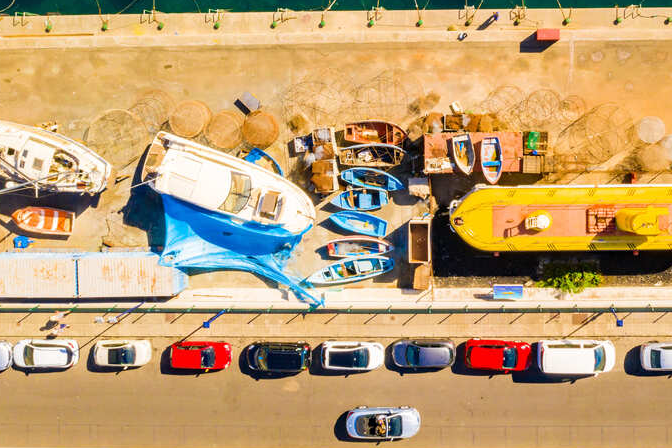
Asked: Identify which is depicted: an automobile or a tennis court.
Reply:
automobile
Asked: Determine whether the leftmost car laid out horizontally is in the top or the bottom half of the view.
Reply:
bottom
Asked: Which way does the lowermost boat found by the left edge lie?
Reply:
horizontally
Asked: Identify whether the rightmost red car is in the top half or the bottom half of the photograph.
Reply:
bottom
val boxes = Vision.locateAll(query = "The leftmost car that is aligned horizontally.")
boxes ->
[13,339,81,373]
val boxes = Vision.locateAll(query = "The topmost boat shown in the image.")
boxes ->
[344,119,408,146]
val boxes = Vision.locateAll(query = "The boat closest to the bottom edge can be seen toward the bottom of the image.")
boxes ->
[305,255,396,286]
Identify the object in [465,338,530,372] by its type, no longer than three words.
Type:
car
